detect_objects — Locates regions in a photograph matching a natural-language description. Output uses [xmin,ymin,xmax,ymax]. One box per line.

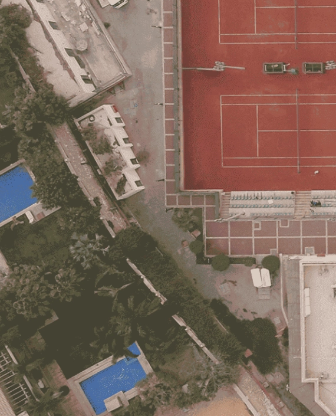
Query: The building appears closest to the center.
[75,105,156,211]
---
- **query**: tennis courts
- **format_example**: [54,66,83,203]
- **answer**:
[181,0,336,69]
[183,69,336,219]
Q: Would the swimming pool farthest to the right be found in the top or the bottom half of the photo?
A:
bottom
